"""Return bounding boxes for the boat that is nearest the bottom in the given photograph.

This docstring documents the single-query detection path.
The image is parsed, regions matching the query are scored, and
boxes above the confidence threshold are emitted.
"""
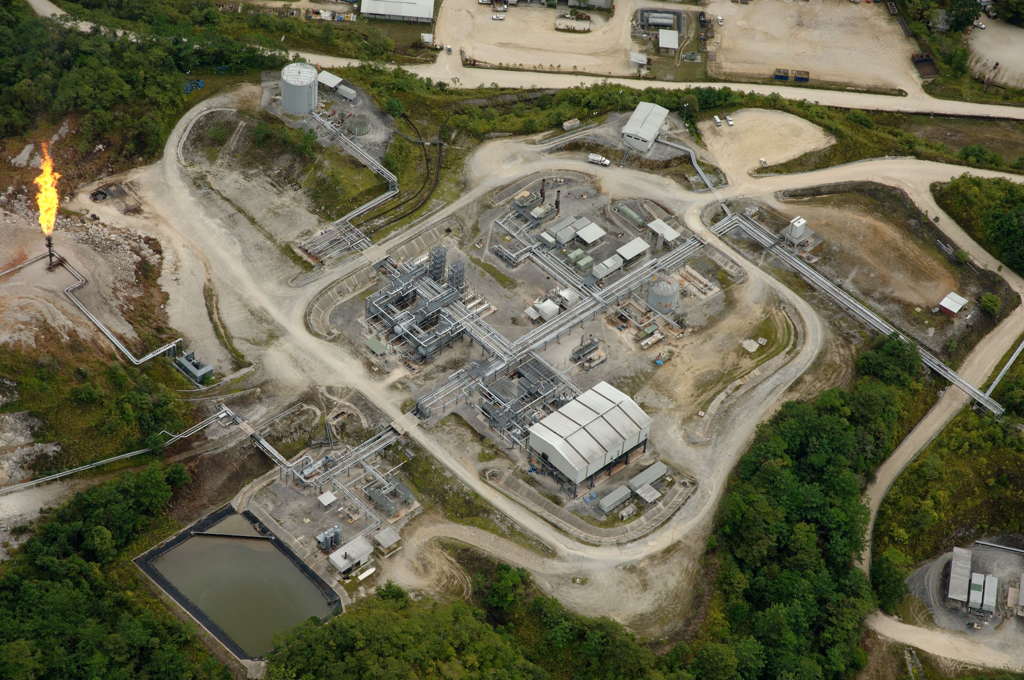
[357,568,375,582]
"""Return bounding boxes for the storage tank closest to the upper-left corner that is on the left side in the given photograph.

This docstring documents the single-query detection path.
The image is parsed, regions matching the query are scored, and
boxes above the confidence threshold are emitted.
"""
[279,60,319,117]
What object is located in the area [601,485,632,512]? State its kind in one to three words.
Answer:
building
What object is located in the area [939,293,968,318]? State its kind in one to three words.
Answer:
shed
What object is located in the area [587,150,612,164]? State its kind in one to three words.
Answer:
vehicle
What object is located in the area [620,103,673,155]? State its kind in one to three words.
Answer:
building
